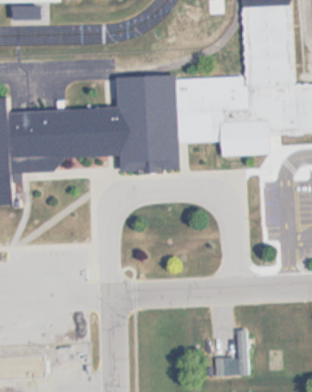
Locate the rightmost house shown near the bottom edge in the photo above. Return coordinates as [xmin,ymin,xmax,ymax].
[216,328,252,377]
